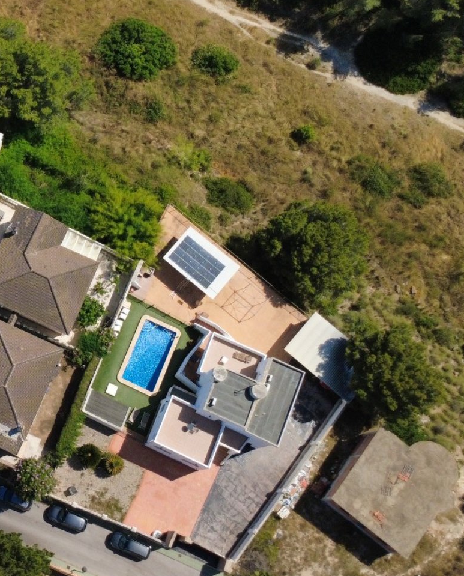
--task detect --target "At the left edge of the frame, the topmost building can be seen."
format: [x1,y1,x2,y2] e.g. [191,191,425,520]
[0,205,102,336]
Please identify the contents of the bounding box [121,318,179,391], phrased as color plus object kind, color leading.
blue swimming pool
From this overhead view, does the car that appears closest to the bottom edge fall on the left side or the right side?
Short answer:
left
